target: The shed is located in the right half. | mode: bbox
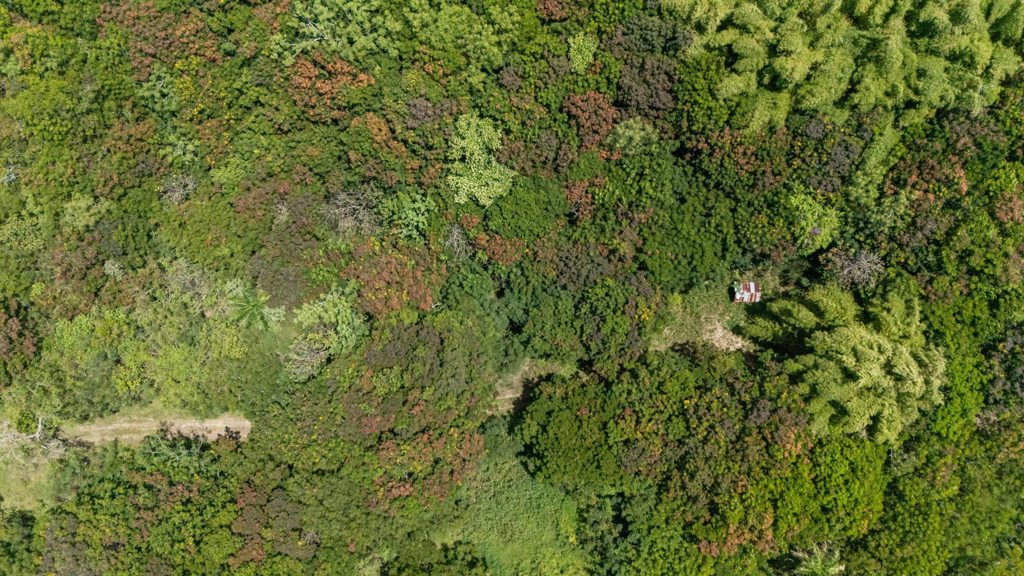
[730,282,761,302]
